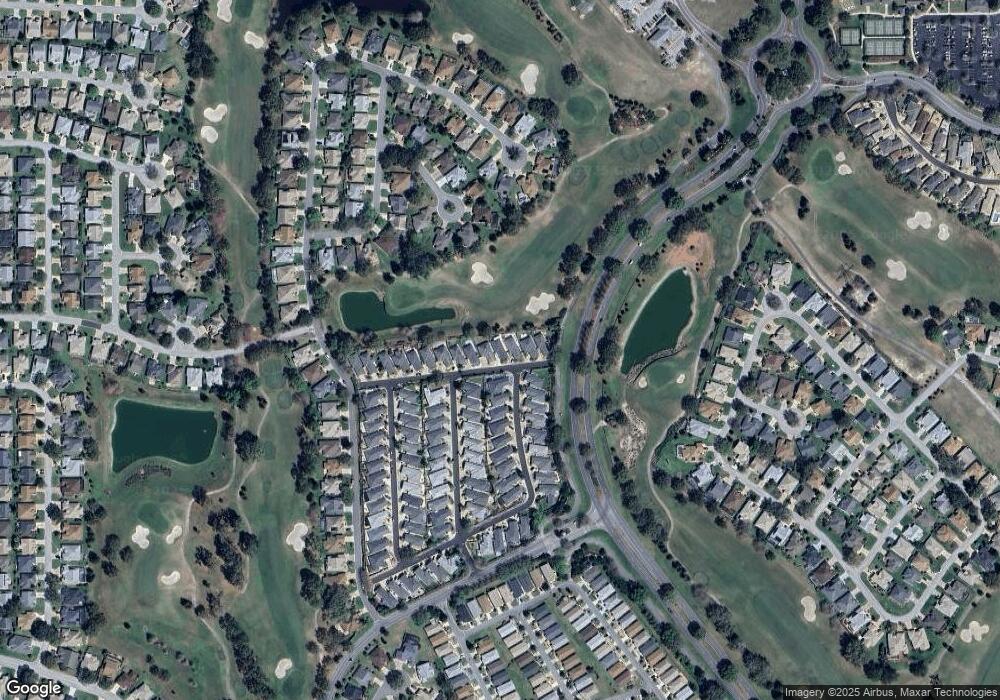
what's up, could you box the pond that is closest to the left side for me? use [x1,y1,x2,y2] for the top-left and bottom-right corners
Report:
[111,399,218,474]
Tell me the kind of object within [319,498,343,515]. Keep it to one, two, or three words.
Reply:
house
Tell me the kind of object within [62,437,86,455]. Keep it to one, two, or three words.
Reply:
house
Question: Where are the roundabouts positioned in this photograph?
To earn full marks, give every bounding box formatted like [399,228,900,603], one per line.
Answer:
[744,30,823,112]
